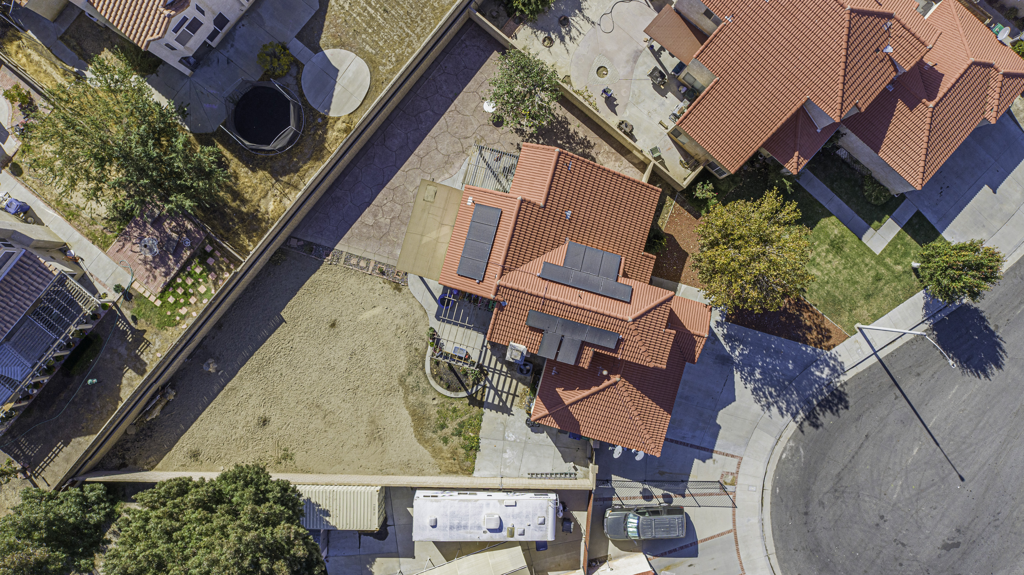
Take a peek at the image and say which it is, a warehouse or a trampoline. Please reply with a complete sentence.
The one in the frame is a trampoline.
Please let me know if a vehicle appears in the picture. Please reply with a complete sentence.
Yes, looking at the shot, I can spot a vehicle.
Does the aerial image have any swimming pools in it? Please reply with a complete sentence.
No, I can't see a single swimming pool in this photo.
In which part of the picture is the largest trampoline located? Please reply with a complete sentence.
Look in the top left portion of the view to spot the largest trampoline.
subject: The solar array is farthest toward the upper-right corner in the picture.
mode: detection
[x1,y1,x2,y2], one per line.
[541,241,633,301]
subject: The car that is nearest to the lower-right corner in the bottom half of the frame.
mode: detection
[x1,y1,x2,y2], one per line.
[601,502,684,544]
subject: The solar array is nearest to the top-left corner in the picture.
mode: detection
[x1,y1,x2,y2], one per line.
[455,203,500,280]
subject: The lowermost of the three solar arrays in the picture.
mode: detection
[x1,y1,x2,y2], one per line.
[526,311,619,366]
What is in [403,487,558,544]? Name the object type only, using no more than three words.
vehicle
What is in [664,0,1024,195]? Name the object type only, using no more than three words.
house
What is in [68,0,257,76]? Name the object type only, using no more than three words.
house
